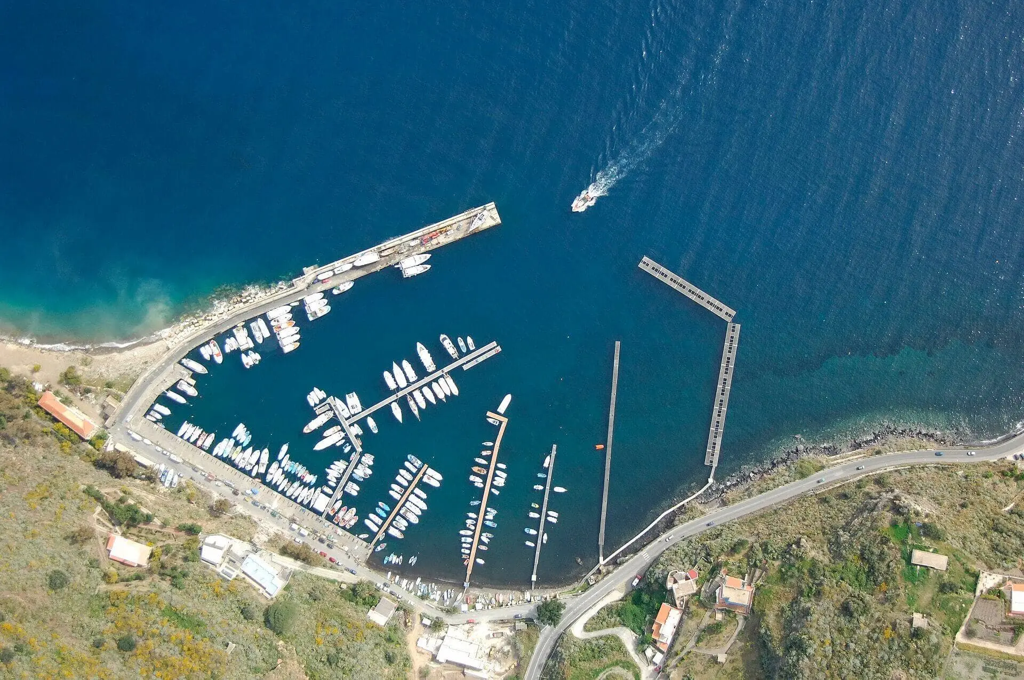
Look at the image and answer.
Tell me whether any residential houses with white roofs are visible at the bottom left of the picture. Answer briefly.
Yes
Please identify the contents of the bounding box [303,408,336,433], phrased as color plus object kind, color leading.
white boat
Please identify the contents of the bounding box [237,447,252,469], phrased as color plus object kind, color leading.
white boat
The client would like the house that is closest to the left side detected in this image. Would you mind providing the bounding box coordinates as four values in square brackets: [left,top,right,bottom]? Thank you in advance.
[38,391,99,439]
